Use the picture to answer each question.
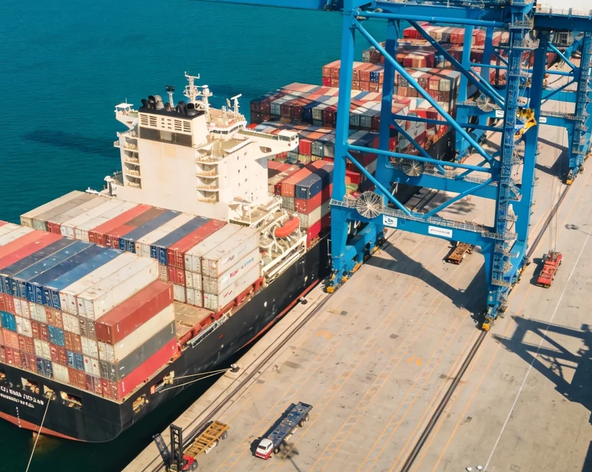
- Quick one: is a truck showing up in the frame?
Yes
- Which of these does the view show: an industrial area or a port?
port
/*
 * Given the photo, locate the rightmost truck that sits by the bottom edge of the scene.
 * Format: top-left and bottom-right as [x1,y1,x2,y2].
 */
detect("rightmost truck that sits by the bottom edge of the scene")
[249,402,313,464]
